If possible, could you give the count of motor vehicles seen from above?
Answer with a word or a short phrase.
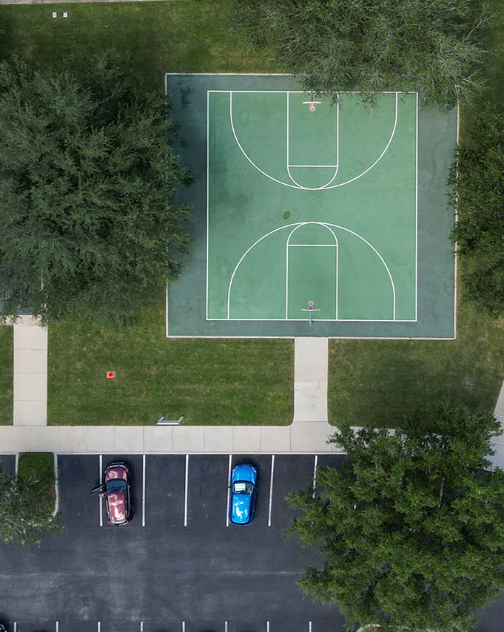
2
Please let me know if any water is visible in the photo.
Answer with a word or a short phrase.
No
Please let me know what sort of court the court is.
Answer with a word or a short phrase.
basketball court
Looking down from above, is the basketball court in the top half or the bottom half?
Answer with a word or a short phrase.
top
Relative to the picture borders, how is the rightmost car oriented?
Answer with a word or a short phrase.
vertically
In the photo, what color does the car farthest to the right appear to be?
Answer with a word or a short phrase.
blue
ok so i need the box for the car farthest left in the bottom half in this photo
[90,464,133,528]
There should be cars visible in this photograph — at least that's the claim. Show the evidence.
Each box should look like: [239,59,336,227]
[229,467,258,527]
[90,464,133,528]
